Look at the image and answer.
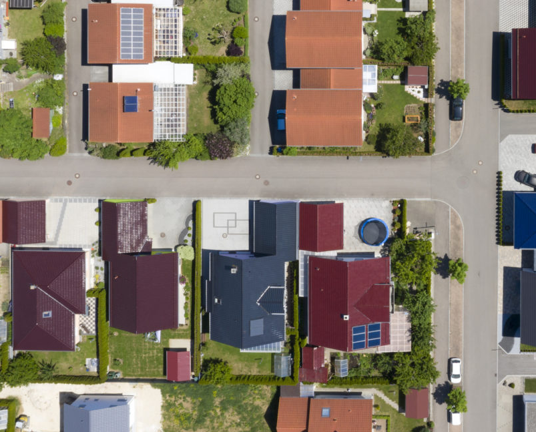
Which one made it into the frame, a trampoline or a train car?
trampoline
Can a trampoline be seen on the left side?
No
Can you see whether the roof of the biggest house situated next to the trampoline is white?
No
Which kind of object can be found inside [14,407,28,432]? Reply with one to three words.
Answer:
work vehicle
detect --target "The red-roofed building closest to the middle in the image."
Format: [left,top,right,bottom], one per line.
[299,201,343,253]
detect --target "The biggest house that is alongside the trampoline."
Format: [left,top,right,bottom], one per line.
[309,253,391,353]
